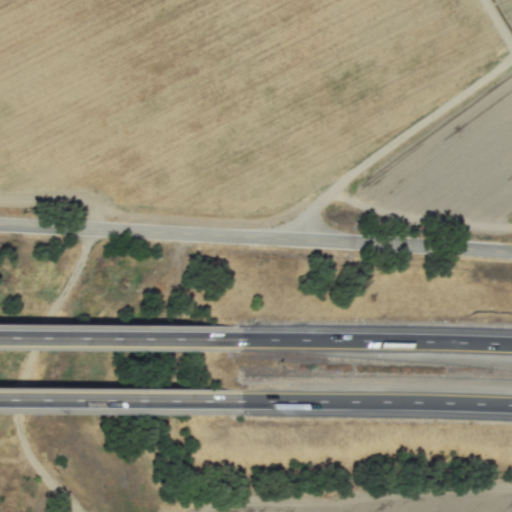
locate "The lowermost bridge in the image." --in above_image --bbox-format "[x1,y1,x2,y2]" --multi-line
[0,388,242,416]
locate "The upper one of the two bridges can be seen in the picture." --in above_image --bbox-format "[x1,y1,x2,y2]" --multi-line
[0,324,242,352]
